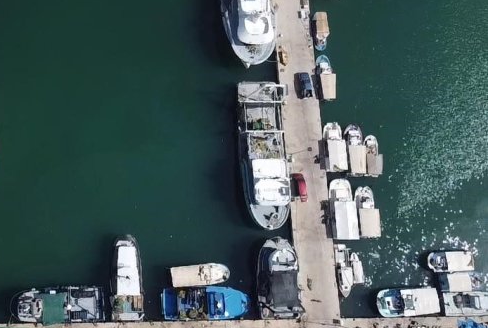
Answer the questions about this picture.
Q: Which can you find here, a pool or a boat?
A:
boat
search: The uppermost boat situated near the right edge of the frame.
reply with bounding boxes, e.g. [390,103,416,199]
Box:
[426,251,474,273]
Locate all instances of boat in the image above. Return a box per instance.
[233,78,310,235]
[169,262,229,288]
[437,272,482,293]
[219,0,276,69]
[368,288,443,321]
[312,11,329,53]
[343,124,366,179]
[10,282,104,324]
[349,251,363,283]
[108,236,149,324]
[313,55,337,105]
[353,186,381,238]
[334,244,353,298]
[325,179,359,244]
[152,284,248,324]
[363,135,383,179]
[426,251,474,273]
[317,118,347,174]
[440,292,488,317]
[253,237,309,320]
